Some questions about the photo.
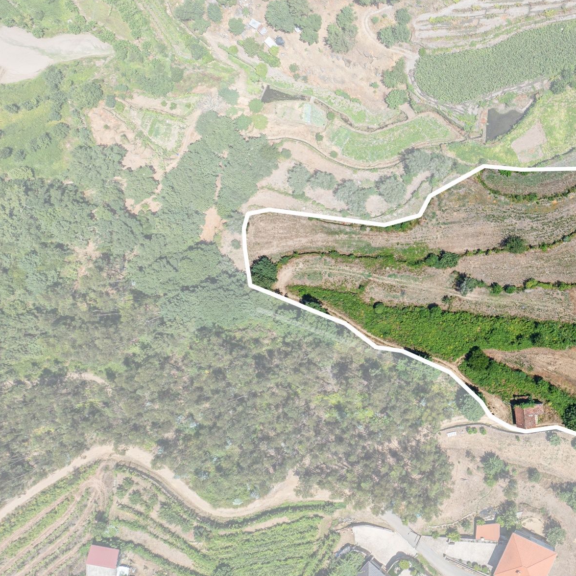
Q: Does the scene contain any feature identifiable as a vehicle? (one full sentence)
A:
No, this view has no vehicle in it.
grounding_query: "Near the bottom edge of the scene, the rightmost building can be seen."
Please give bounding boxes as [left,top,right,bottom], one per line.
[494,526,557,576]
